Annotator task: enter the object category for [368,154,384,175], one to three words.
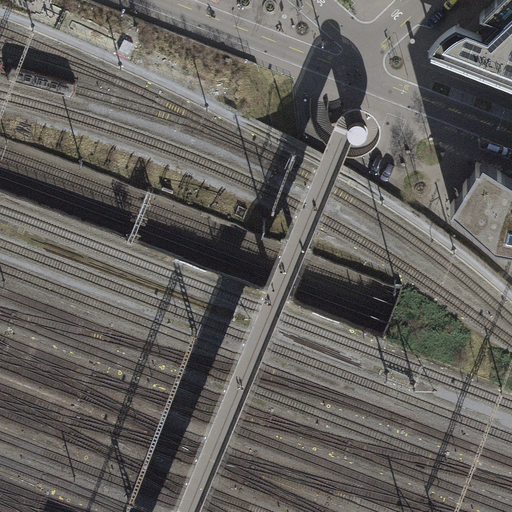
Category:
car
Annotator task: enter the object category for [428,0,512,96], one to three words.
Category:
building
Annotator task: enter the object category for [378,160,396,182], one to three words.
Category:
car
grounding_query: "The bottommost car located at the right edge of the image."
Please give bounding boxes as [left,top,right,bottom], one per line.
[486,142,510,156]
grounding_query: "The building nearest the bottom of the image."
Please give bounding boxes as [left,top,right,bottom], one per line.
[448,156,512,268]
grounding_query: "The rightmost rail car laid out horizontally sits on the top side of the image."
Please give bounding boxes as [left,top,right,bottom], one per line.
[4,66,78,94]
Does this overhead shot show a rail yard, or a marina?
rail yard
